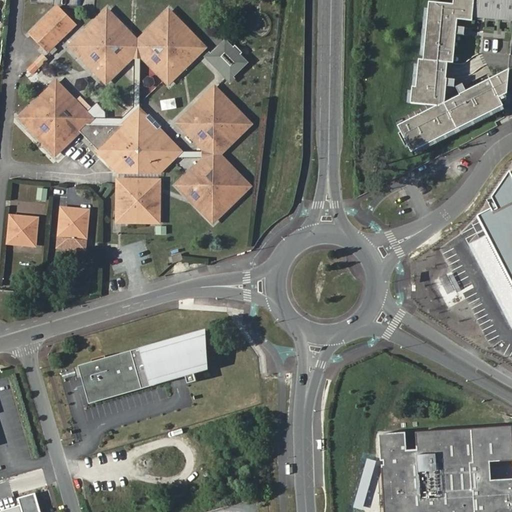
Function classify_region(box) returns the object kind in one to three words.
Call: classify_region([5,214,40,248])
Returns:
house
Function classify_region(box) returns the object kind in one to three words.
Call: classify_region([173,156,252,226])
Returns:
building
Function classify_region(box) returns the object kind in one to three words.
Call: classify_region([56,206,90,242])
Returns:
house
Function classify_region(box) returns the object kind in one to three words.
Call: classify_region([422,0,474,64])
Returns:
building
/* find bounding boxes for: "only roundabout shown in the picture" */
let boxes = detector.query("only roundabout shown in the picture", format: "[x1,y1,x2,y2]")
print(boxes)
[243,200,404,368]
